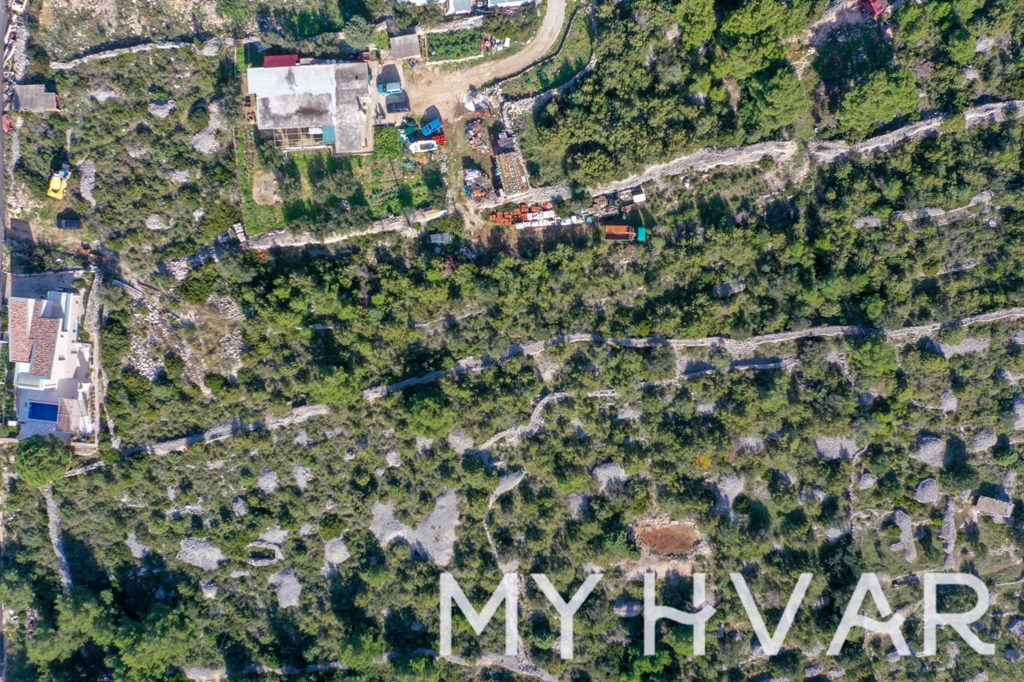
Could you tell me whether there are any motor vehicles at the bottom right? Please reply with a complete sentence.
No, looking at the bottom right, there is no motor vehicle.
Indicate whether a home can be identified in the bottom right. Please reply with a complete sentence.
Yes, a home is visible in the bottom right.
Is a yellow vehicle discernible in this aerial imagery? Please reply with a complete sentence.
Yes, the image includes a yellow vehicle.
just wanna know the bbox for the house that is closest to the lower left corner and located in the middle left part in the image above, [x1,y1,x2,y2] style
[9,292,91,392]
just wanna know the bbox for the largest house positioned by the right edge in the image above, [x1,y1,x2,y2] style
[967,494,1014,523]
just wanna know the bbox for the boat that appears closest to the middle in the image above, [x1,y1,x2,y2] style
[419,210,447,223]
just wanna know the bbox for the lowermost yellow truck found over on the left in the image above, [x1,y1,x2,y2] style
[48,163,75,202]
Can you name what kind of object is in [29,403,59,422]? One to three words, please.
swimming pool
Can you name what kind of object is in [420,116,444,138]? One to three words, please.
car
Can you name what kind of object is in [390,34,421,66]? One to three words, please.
building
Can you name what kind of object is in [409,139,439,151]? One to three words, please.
boat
